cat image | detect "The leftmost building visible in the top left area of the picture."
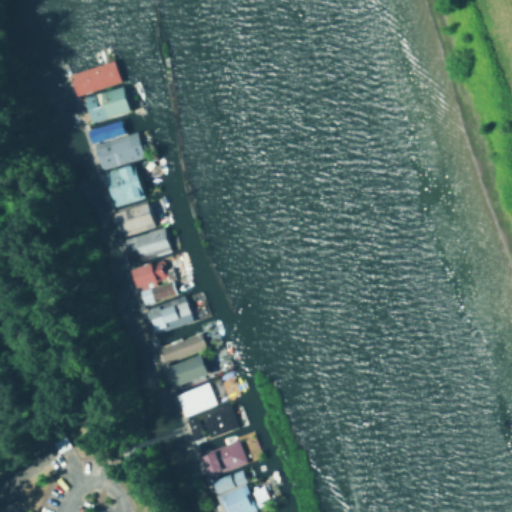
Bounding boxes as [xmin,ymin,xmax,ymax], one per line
[88,120,128,144]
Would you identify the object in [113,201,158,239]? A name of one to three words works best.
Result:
boat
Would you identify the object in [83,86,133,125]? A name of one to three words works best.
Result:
boat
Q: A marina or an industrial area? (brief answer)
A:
marina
